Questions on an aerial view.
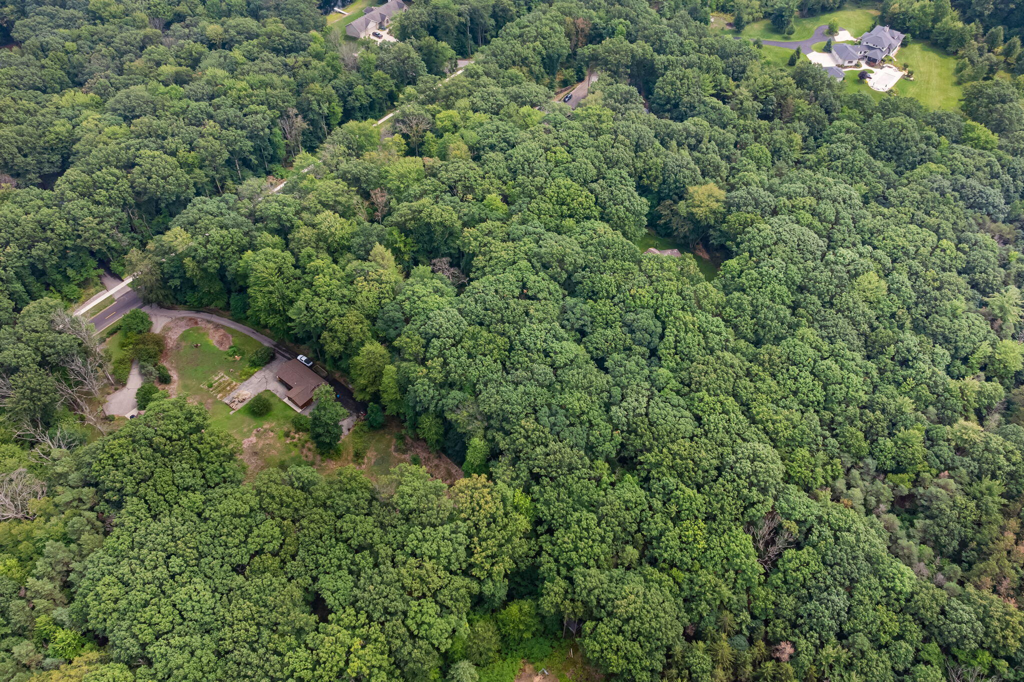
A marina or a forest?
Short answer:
forest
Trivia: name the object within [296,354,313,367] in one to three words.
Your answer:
vehicle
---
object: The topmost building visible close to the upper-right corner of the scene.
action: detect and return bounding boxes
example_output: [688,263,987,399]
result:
[827,18,911,65]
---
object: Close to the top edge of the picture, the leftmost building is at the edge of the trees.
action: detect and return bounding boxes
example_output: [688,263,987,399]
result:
[345,0,415,41]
